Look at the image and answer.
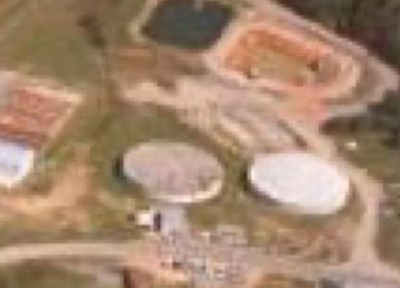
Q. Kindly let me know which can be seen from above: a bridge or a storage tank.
storage tank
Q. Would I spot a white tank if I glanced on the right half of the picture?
Yes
